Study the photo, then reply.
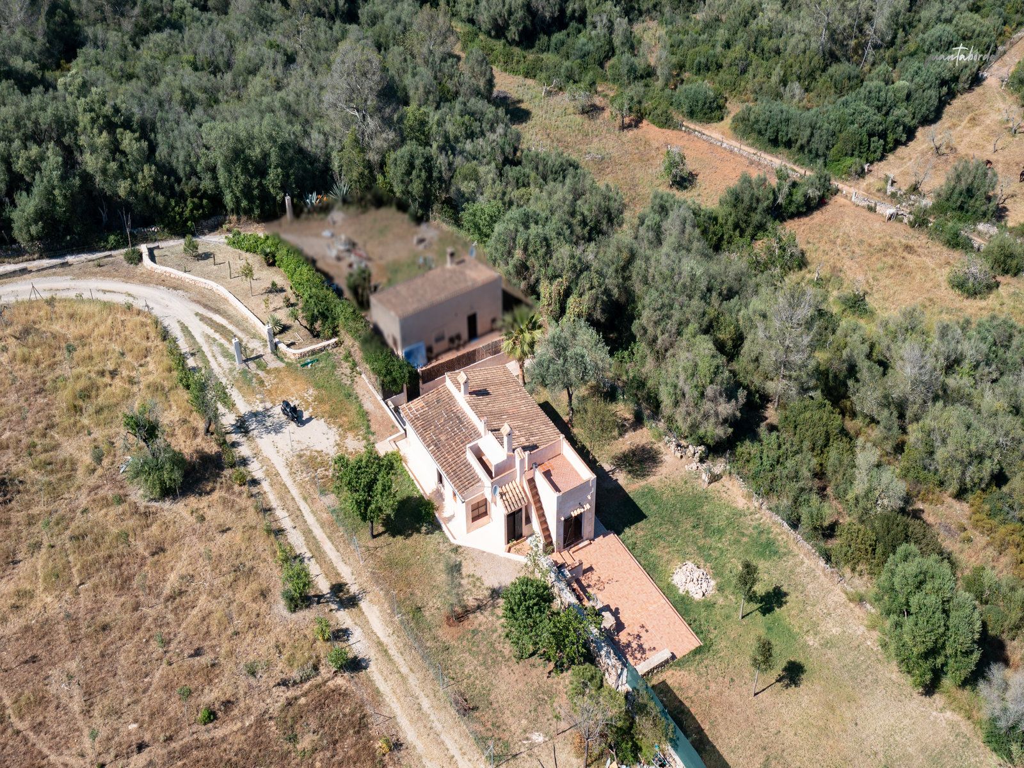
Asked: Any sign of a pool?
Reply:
No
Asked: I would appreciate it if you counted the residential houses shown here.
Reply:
2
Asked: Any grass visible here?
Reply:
Yes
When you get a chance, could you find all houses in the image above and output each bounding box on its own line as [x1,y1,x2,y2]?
[370,363,612,562]
[378,249,506,360]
